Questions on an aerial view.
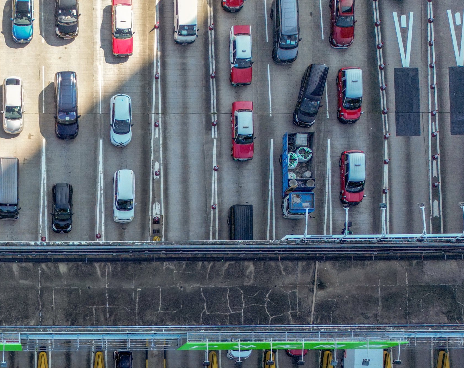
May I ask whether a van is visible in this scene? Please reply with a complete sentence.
Yes, this view includes a van.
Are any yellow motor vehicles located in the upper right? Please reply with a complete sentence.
No, no yellow motor vehicle is visible in the upper right.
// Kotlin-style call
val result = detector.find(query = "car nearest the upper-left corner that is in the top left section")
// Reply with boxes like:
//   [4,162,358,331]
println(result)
[11,0,35,47]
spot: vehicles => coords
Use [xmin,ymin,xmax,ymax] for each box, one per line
[339,150,366,205]
[272,0,301,64]
[228,27,254,87]
[0,159,21,219]
[109,96,134,146]
[112,171,136,222]
[336,68,363,124]
[172,0,197,47]
[113,350,133,368]
[0,78,25,134]
[11,0,35,47]
[54,75,80,137]
[111,1,135,59]
[50,181,75,235]
[327,0,357,51]
[230,103,257,161]
[219,0,245,15]
[54,0,80,42]
[281,133,317,218]
[292,64,330,127]
[228,201,254,241]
